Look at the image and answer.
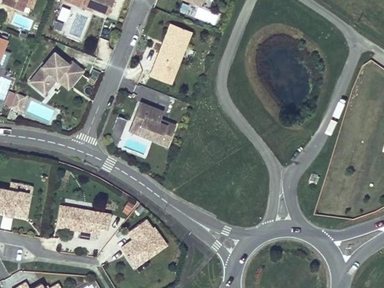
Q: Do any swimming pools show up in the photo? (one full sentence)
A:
Yes, this view includes a swimming pool.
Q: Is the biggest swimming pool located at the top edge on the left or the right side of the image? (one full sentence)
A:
You can find the biggest swimming pool located at the top edge on the left side of the picture.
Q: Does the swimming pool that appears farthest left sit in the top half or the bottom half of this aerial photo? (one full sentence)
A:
Seen from above, the swimming pool that appears farthest left lies in the top half of the view.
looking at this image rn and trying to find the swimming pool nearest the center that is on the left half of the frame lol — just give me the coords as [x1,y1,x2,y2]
[118,132,152,158]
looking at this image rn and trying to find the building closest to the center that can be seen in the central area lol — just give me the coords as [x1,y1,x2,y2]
[130,102,176,150]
